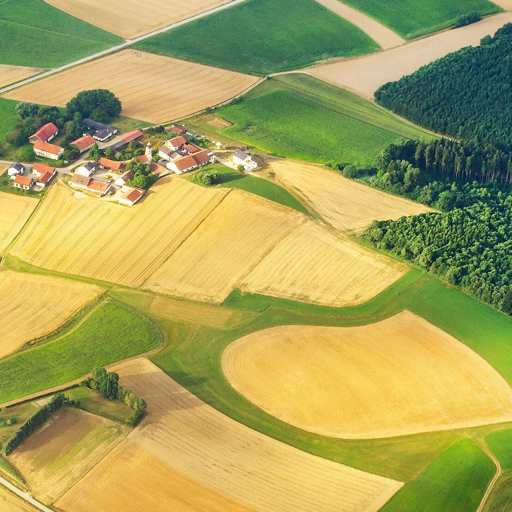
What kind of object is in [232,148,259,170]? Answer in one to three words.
house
